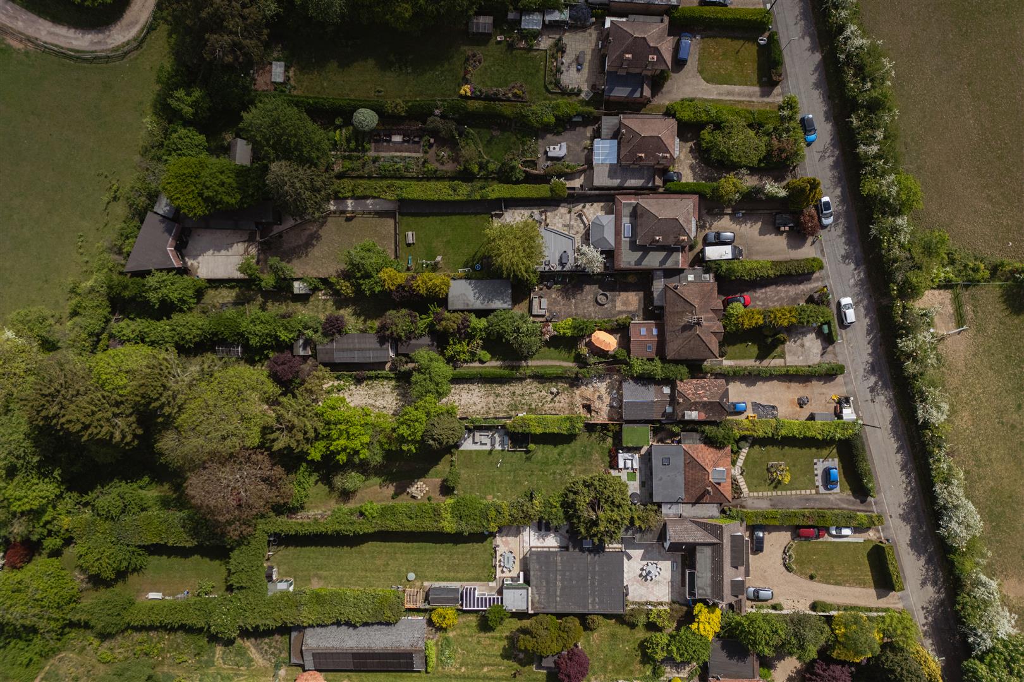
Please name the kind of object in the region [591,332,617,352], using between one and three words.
umbrella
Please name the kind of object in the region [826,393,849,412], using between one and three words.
work vehicle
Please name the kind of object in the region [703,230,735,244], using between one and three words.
car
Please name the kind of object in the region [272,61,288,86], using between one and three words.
greenhouse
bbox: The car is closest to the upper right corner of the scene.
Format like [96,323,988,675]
[799,114,817,144]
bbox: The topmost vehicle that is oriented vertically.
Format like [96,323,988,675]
[675,33,692,66]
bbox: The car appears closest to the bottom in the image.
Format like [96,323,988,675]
[745,586,775,602]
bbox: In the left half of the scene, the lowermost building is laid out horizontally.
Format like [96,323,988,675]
[290,611,426,670]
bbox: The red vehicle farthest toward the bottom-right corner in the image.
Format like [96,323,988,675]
[794,526,827,542]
